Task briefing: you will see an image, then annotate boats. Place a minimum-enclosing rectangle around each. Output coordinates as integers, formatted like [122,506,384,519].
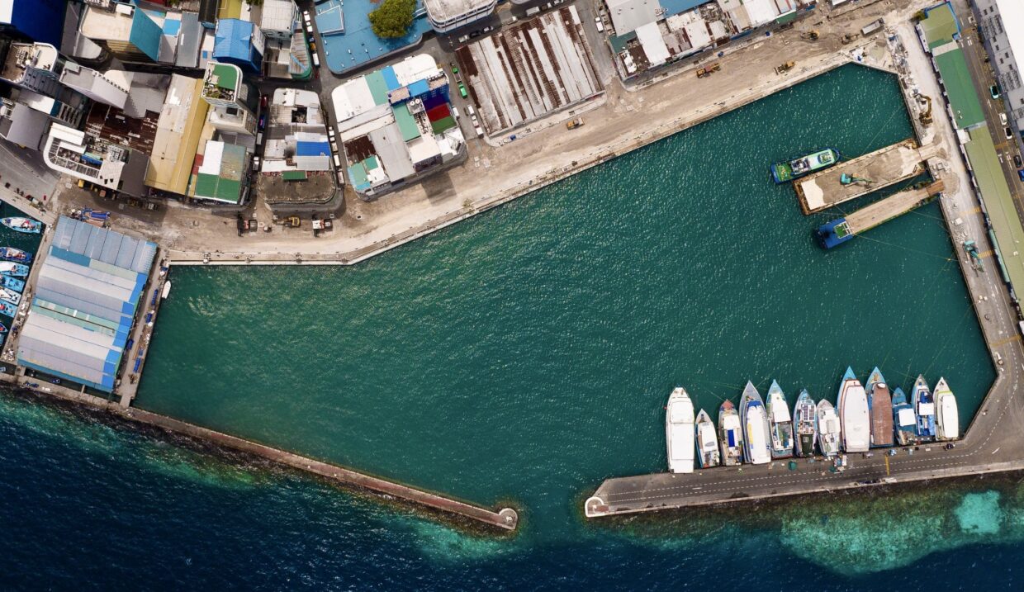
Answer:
[0,247,35,264]
[835,367,876,454]
[815,400,840,457]
[867,367,897,448]
[716,400,742,467]
[792,389,817,457]
[0,274,25,291]
[893,387,916,446]
[0,262,31,278]
[163,281,172,299]
[931,377,961,441]
[0,216,45,235]
[0,335,7,345]
[769,148,842,184]
[910,374,939,440]
[693,410,717,469]
[0,298,17,316]
[0,286,21,304]
[765,379,793,460]
[0,321,10,331]
[736,380,771,465]
[664,383,695,474]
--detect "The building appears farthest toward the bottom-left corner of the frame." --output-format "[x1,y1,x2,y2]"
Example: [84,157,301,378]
[15,216,160,396]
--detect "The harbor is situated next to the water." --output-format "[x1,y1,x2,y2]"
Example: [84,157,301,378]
[128,50,1001,440]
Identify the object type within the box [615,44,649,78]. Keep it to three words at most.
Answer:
building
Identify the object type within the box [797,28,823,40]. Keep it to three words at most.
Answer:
vehicle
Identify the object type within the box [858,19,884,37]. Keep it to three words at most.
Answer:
vehicle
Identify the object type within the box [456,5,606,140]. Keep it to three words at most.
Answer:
warehouse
